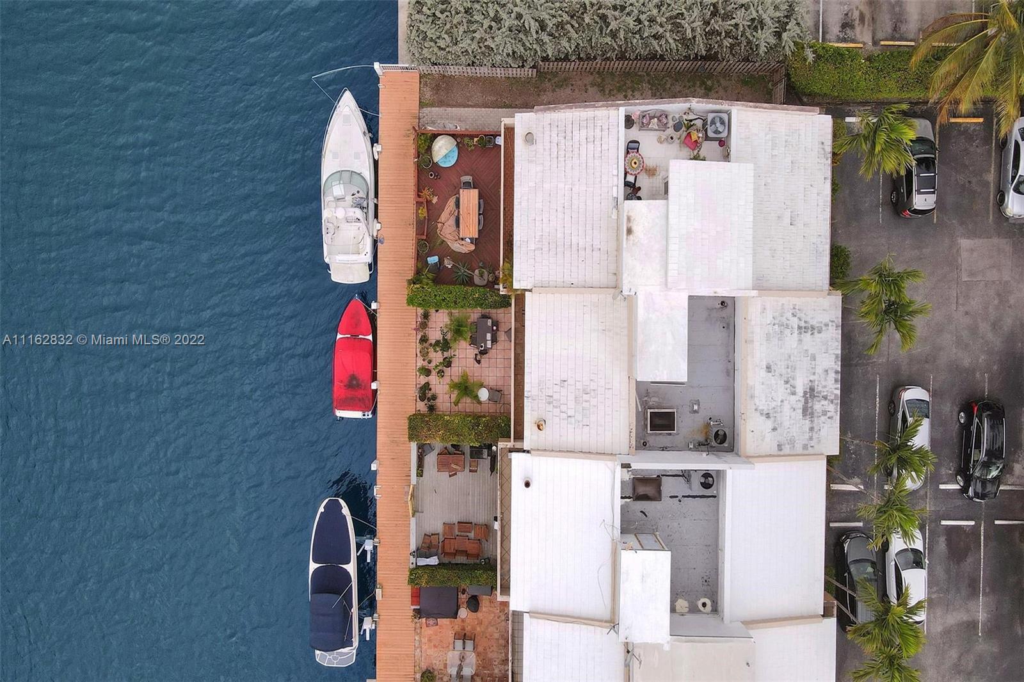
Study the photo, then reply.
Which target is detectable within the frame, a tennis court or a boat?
boat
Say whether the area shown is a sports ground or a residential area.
residential area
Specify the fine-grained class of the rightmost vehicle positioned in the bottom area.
automobile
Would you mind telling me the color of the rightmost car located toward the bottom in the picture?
black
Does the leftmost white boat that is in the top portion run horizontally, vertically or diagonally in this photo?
vertically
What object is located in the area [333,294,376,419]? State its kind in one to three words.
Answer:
boat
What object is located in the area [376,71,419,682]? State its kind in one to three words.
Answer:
pier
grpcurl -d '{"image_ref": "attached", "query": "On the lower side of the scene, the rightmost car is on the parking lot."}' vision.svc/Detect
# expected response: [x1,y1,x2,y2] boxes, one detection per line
[954,398,1013,500]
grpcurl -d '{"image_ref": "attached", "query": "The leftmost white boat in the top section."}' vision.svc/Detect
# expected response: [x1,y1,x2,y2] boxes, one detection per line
[319,79,377,284]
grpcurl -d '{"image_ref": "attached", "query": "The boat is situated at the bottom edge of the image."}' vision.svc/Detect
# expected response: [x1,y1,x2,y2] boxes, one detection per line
[309,494,361,666]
